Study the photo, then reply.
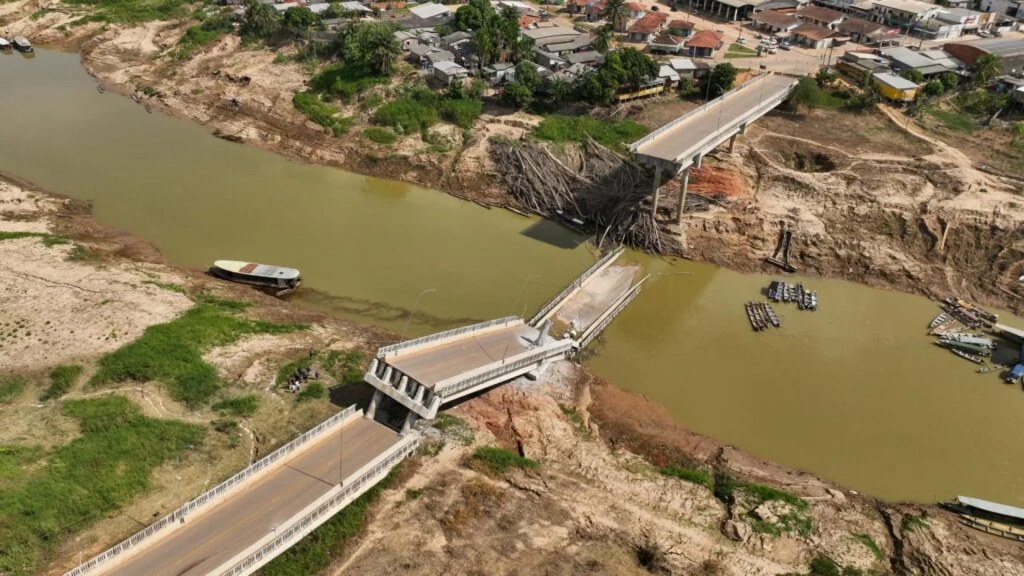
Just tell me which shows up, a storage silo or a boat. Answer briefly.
boat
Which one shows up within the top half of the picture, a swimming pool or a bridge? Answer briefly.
bridge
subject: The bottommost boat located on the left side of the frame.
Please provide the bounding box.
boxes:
[208,263,307,289]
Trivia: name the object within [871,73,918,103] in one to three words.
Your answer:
house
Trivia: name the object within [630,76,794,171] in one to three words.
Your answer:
bridge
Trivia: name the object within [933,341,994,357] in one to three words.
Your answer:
boat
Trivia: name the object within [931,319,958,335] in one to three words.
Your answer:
boat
